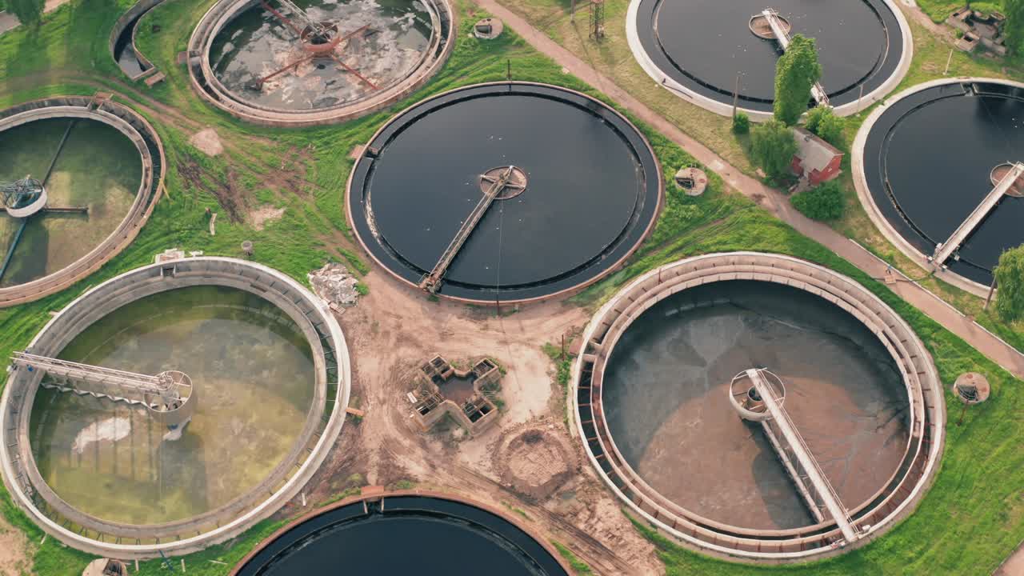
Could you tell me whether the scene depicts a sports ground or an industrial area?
industrial area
